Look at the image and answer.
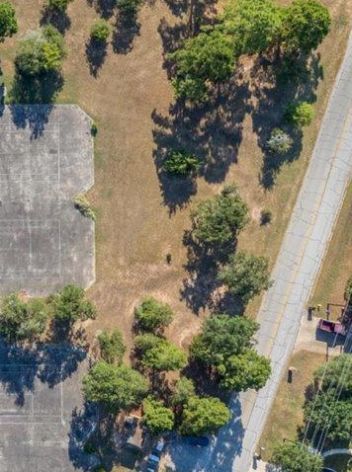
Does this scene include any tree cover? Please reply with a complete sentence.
Yes, there is tree cover in the image.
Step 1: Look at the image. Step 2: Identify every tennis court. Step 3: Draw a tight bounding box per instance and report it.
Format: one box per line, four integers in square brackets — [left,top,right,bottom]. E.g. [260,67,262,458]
[0,104,95,194]
[0,193,95,297]
[0,346,94,444]
[0,443,94,472]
